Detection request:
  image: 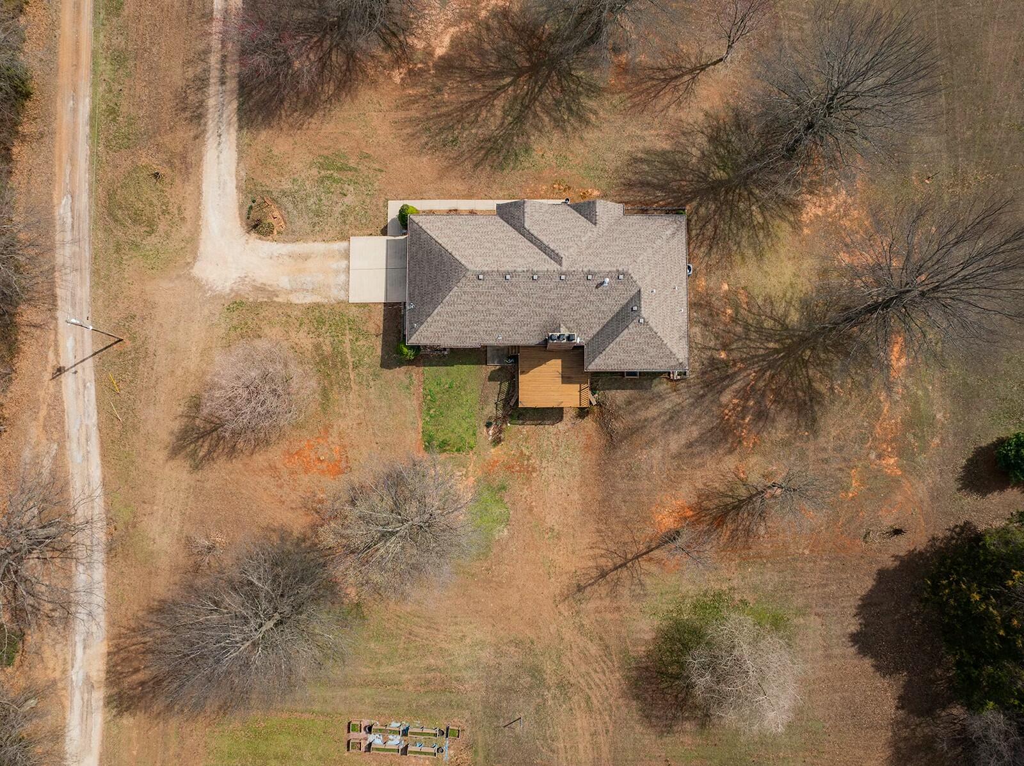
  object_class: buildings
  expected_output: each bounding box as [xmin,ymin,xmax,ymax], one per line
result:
[406,198,690,373]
